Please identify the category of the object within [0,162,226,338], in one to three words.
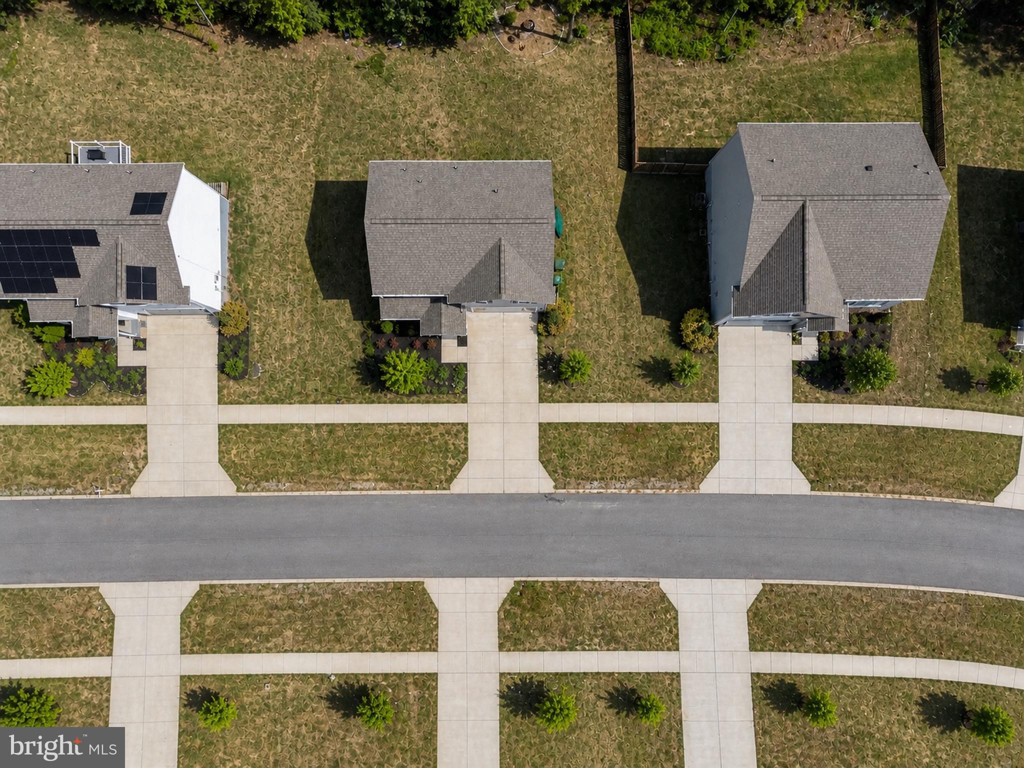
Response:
house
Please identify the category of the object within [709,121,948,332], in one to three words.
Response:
house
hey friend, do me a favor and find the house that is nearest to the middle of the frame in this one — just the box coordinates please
[363,159,557,335]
